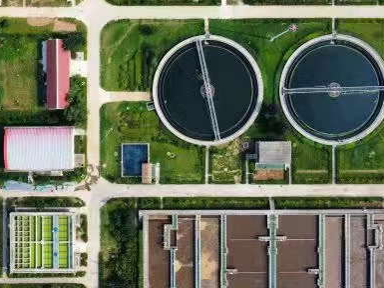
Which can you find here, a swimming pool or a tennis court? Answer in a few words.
swimming pool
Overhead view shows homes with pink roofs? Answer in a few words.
Yes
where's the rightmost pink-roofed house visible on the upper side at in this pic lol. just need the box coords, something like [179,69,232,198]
[42,37,83,109]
